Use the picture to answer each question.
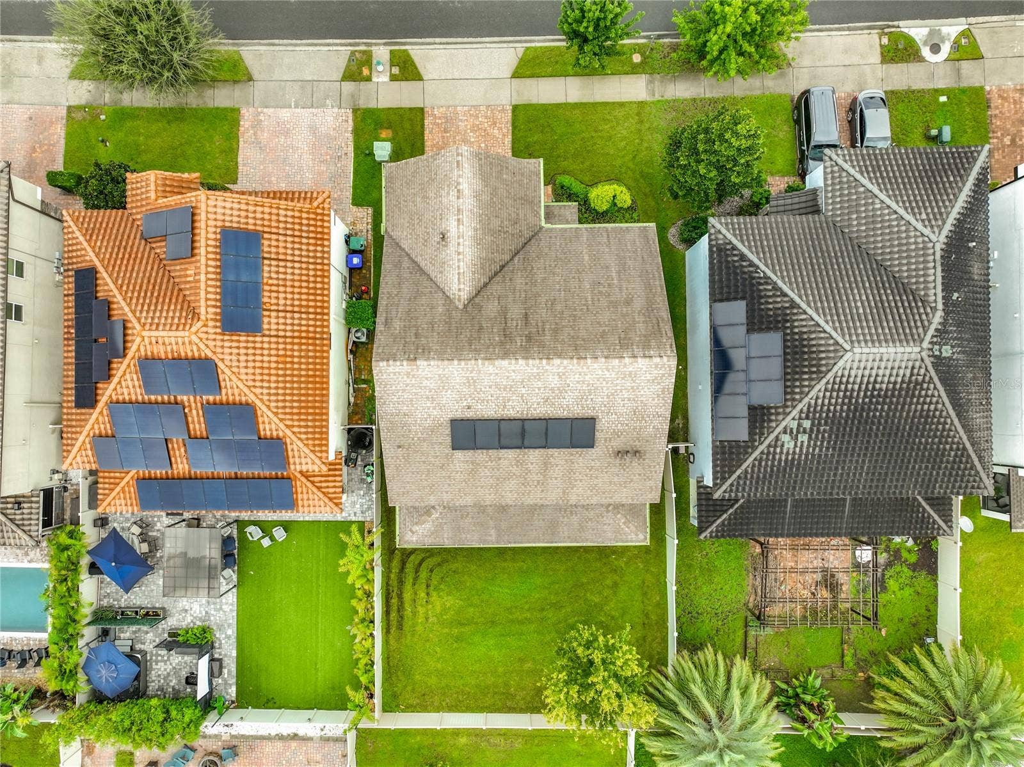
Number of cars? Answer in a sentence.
The photo contains 2 cars.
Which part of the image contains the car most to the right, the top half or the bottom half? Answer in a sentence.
The car most to the right is in the top half of the image.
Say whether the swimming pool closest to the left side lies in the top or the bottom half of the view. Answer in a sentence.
It is in the bottom half that the swimming pool closest to the left side appears.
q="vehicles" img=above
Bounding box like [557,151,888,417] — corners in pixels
[849,85,897,146]
[791,85,839,182]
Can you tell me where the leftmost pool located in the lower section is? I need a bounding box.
[0,563,51,638]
